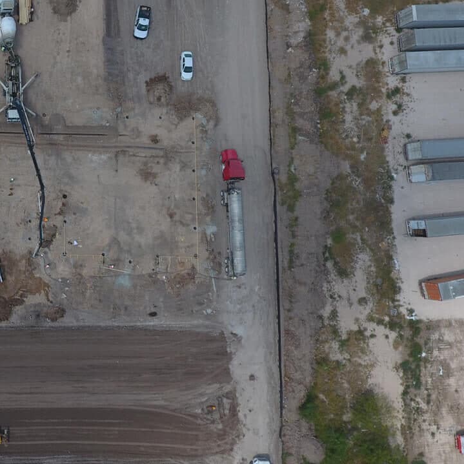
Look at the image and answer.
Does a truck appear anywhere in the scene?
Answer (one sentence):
Yes, a truck can be made out from above.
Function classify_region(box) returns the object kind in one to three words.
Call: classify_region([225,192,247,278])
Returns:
trailer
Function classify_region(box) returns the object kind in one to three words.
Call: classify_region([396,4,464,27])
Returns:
trailer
